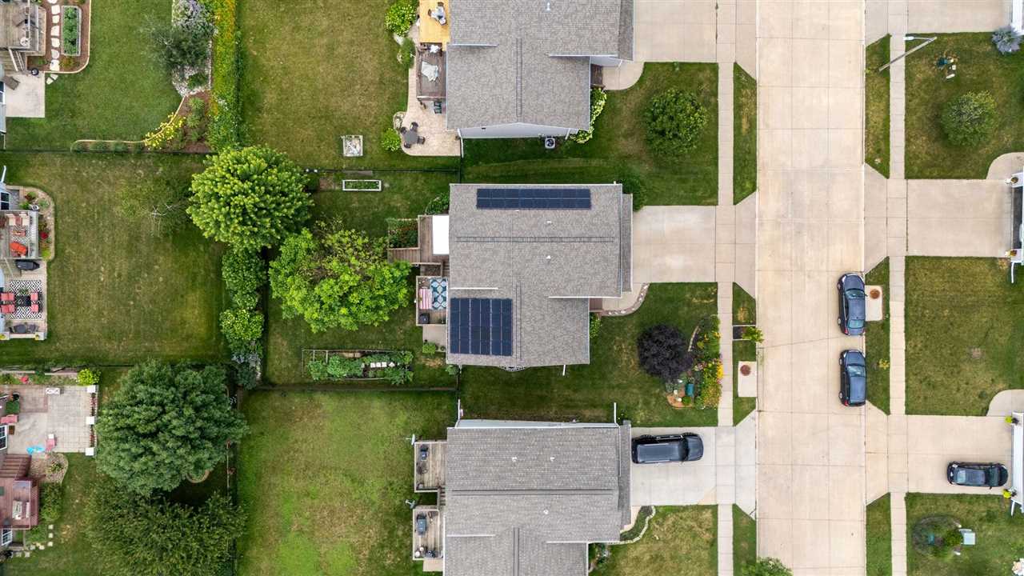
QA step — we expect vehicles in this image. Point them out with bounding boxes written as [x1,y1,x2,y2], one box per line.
[947,462,1009,491]
[635,435,703,467]
[839,274,872,336]
[840,350,873,408]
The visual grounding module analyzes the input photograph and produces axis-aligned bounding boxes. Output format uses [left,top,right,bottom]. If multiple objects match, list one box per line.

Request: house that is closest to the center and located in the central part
[447,180,632,376]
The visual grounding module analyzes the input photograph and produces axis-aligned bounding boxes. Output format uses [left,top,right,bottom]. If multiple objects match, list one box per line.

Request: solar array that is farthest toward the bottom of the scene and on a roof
[451,298,512,356]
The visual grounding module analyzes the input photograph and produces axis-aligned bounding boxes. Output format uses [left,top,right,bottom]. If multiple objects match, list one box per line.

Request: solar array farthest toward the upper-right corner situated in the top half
[477,189,591,209]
